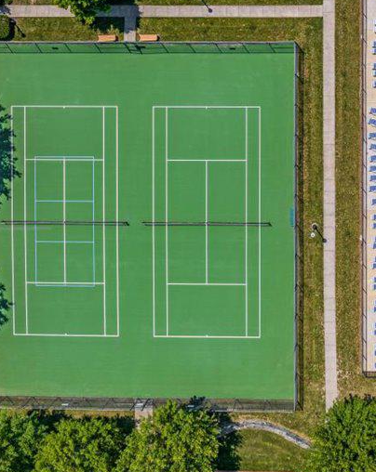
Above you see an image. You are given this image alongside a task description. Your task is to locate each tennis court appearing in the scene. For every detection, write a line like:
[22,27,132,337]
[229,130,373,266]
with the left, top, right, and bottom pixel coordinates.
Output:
[0,44,135,399]
[135,44,296,399]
